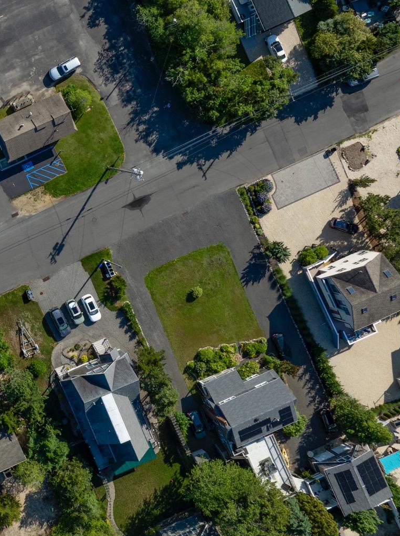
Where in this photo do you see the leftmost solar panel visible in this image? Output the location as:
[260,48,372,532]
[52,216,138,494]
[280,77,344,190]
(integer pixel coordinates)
[239,422,264,441]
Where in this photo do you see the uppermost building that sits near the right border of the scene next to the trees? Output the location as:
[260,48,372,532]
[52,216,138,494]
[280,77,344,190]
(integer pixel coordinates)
[294,251,400,350]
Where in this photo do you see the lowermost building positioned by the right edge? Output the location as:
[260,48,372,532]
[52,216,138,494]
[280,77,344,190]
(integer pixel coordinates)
[289,436,392,515]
